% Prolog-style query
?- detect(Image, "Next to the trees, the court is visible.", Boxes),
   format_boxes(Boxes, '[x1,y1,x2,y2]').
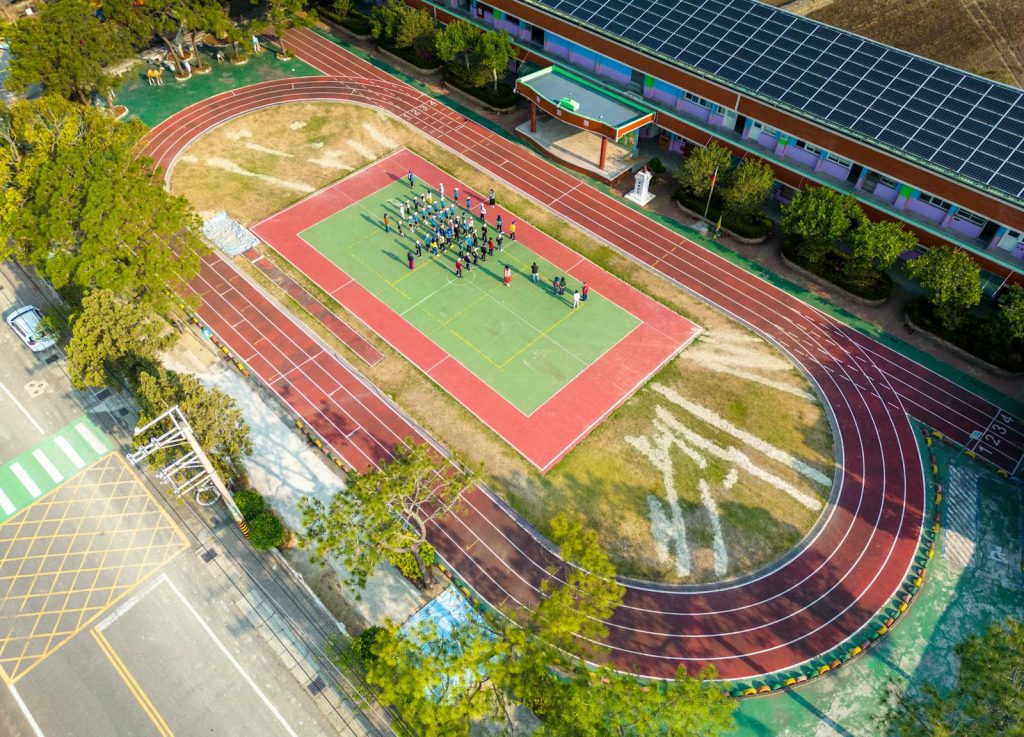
[249,147,705,473]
